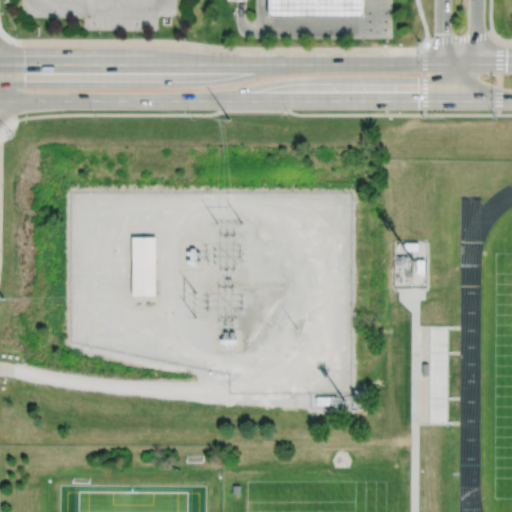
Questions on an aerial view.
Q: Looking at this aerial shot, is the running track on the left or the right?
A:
right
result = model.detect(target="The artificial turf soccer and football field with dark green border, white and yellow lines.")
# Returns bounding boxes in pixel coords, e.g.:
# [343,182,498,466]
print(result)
[61,486,208,512]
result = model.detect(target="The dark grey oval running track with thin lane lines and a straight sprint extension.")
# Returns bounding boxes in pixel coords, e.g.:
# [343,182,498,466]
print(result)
[462,180,512,512]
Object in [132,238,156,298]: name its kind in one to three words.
building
